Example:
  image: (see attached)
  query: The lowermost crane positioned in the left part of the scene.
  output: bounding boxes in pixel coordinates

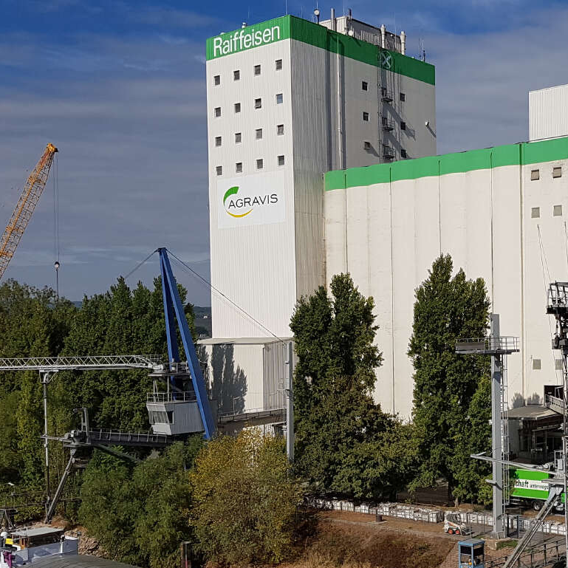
[0,244,289,526]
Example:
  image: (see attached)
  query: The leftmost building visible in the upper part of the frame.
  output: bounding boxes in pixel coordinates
[206,0,437,433]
